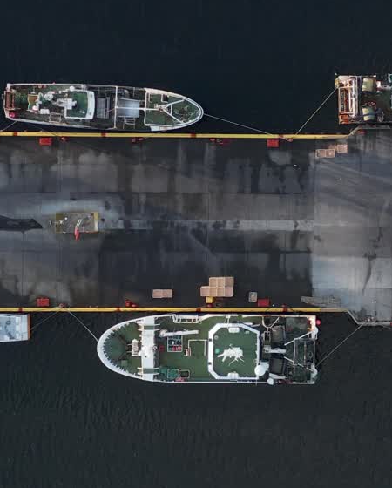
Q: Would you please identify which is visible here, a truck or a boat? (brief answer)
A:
boat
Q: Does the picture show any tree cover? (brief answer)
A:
No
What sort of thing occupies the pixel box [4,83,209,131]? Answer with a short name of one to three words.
boat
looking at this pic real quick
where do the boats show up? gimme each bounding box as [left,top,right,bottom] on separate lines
[4,83,209,131]
[97,312,318,385]
[338,73,392,125]
[0,313,35,342]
